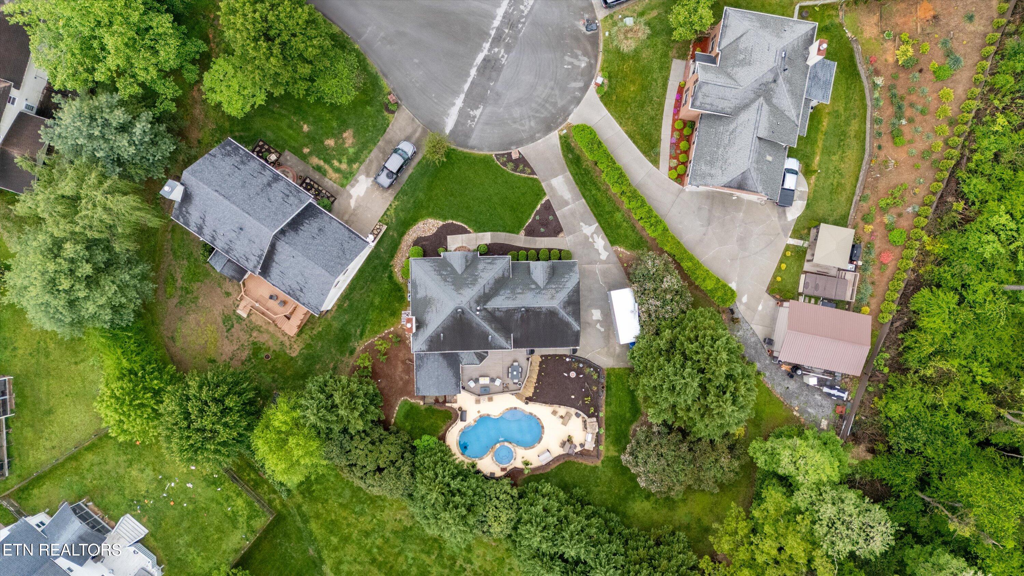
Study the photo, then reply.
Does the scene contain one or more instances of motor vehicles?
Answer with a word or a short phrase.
Yes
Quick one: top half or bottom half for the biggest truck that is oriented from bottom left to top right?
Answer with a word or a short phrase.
top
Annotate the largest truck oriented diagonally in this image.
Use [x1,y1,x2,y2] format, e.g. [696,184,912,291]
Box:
[372,137,416,194]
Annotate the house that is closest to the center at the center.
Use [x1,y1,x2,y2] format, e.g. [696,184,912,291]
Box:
[405,251,581,396]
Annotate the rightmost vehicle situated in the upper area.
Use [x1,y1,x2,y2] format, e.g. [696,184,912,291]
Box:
[773,153,803,213]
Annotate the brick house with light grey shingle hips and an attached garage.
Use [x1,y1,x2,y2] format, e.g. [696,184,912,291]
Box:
[681,6,837,202]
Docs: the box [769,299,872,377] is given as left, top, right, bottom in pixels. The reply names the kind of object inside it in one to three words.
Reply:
shed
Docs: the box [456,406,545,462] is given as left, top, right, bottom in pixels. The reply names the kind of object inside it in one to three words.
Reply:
swimming pool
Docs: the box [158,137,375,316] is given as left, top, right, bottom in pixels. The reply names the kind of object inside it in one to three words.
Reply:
house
